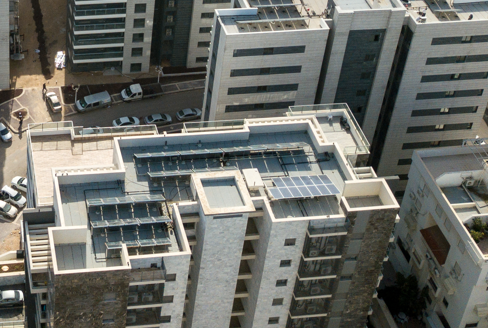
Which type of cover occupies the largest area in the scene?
buildings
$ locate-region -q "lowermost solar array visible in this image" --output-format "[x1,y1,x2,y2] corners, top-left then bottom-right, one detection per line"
[102,233,172,248]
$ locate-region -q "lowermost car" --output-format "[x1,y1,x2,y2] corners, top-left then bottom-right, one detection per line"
[0,289,24,307]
